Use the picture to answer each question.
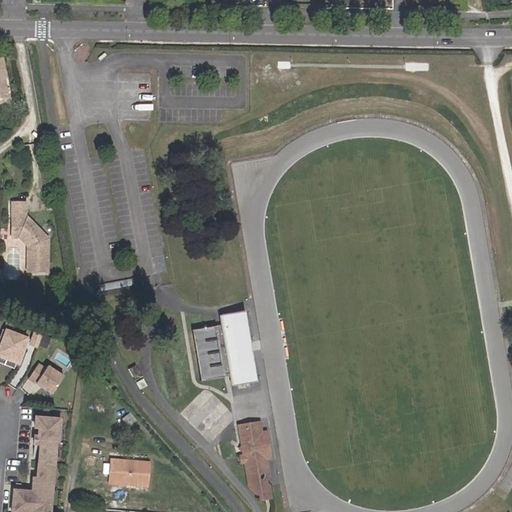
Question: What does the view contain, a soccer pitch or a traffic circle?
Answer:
soccer pitch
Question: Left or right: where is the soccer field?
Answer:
right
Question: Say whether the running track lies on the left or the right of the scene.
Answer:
right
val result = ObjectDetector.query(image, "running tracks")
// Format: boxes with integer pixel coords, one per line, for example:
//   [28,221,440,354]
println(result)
[231,117,512,512]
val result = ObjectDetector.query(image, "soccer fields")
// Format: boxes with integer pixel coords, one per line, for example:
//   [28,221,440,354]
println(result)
[264,138,497,510]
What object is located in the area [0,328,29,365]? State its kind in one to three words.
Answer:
house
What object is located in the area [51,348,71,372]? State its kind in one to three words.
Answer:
swimming pool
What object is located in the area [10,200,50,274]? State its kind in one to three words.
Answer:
house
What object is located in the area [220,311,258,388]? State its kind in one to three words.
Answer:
building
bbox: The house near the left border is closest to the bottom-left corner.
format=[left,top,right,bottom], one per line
[10,416,64,512]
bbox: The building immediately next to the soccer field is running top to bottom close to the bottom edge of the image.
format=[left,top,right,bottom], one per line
[238,421,279,502]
